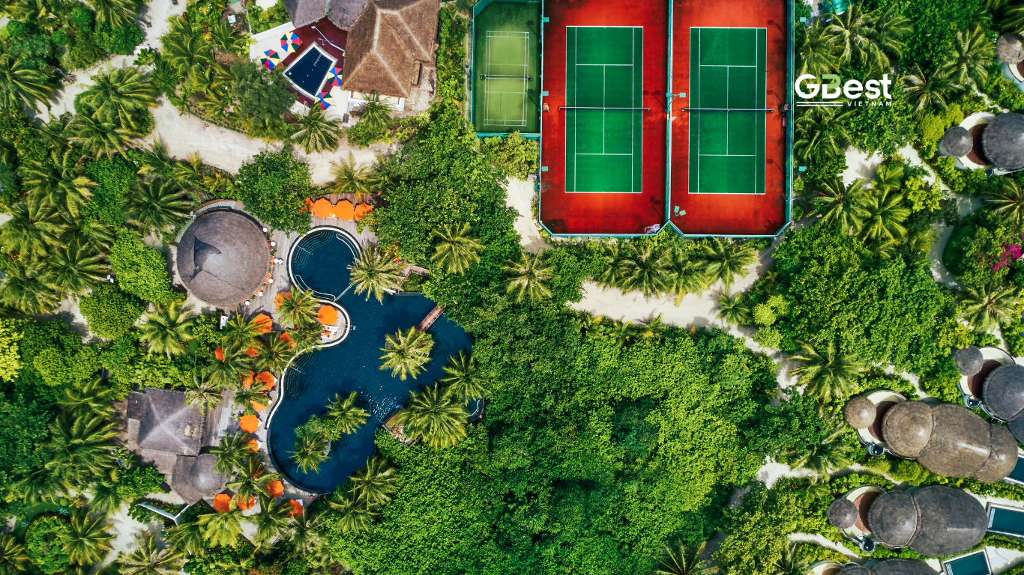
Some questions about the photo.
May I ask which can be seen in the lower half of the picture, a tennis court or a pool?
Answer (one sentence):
Looking in the lower half of the picture, you will find a pool.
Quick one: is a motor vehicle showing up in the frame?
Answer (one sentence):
No, I can see no motor vehicle in this picture.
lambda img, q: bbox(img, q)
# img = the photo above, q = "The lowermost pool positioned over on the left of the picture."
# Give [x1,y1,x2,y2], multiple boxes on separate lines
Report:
[264,225,485,496]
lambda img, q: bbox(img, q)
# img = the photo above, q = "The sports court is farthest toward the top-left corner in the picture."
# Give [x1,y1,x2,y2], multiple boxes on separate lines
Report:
[475,6,541,133]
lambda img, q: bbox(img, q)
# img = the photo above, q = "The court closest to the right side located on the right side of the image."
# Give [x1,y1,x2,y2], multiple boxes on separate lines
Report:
[667,0,787,235]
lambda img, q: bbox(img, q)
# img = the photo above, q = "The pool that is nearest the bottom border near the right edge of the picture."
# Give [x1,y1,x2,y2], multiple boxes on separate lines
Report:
[939,548,992,575]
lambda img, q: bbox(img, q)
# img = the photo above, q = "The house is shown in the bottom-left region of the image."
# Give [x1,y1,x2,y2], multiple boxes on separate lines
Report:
[127,388,232,505]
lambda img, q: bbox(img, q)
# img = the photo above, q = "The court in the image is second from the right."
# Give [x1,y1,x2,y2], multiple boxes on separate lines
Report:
[540,0,667,233]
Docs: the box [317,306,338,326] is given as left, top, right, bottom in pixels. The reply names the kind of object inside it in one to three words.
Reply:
umbrella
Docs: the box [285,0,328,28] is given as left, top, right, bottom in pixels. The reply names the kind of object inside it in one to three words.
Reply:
shed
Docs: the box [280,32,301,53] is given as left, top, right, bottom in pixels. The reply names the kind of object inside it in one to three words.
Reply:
umbrella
